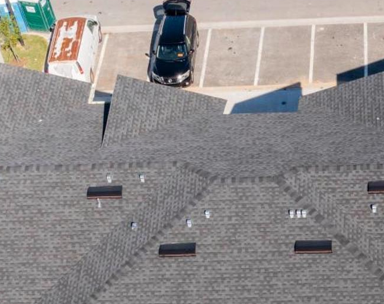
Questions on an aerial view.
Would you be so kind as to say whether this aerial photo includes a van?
Yes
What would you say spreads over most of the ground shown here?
buildings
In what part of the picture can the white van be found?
top left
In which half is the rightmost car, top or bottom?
top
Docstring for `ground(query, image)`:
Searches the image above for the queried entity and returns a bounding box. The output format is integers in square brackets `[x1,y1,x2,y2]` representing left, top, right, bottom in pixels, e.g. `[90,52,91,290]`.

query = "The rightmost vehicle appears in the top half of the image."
[147,0,199,89]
